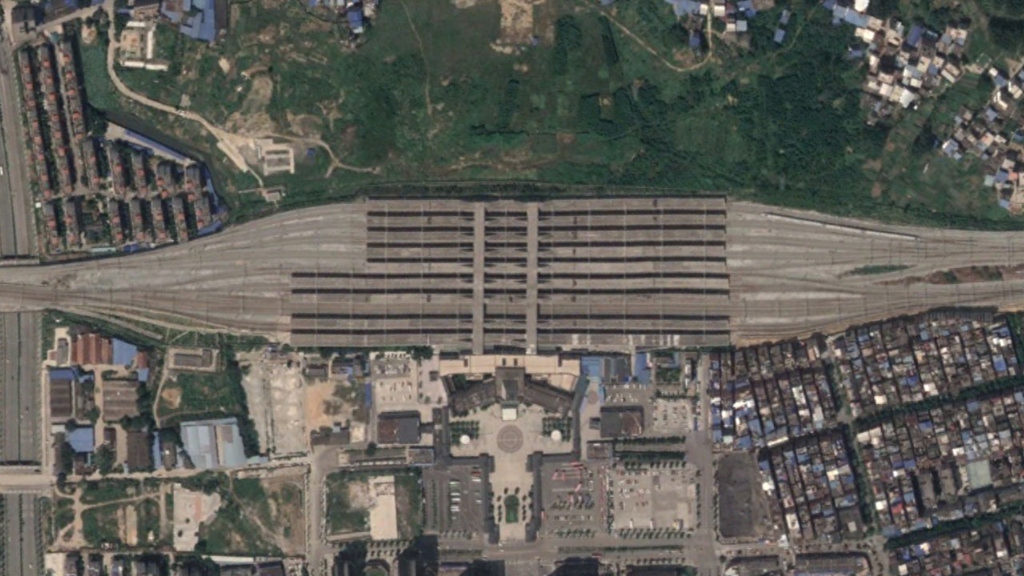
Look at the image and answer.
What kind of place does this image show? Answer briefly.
residential area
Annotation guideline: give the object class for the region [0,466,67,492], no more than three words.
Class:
overpass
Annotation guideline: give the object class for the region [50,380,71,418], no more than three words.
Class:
building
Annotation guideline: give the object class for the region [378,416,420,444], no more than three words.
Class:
building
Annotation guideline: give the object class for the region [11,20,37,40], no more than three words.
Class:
house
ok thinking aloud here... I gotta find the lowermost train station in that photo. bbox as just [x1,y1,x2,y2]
[439,355,581,420]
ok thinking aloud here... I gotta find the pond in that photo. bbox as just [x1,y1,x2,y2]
[83,41,126,110]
